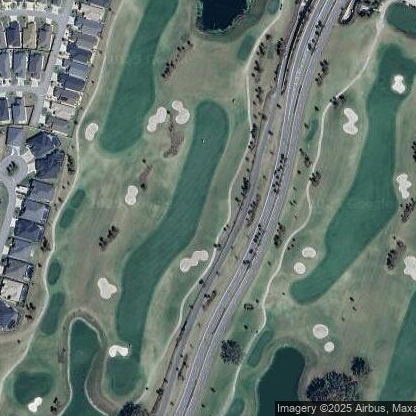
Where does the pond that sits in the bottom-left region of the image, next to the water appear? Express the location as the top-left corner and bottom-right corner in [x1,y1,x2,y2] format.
[62,319,104,416]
